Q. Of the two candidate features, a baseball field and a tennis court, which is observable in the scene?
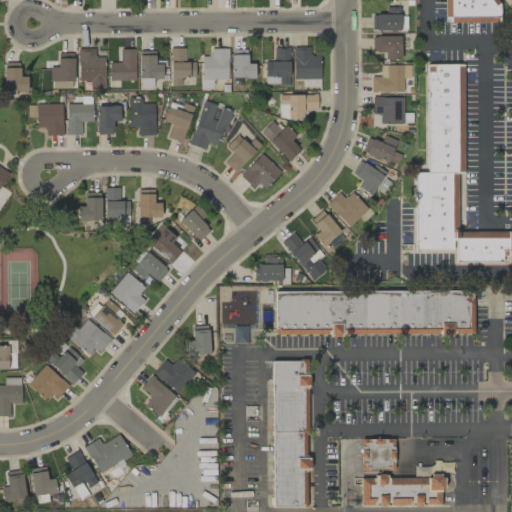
tennis court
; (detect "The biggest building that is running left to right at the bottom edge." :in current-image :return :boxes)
[364,475,446,507]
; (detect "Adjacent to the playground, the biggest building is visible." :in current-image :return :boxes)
[278,290,478,338]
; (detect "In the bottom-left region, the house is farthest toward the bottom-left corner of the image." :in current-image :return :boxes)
[4,471,27,503]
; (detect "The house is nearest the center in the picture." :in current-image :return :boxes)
[256,254,292,285]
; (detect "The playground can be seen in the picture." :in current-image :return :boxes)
[222,291,274,336]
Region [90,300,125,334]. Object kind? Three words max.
house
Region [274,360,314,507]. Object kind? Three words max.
building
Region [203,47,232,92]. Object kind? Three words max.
house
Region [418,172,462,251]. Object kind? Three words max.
building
